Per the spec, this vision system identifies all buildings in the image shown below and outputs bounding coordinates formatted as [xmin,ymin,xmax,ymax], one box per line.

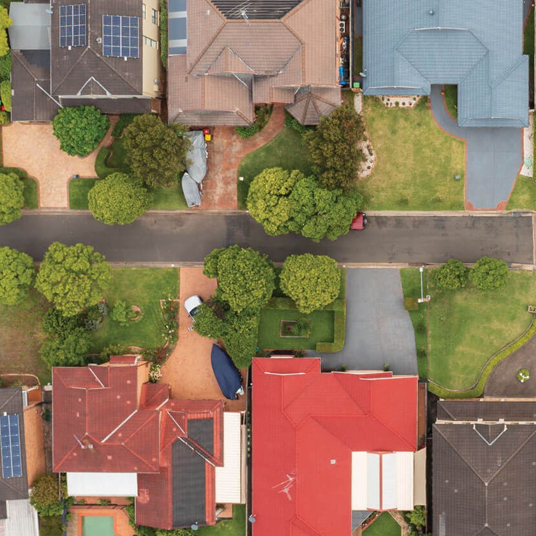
[432,400,536,536]
[10,0,162,124]
[358,0,529,128]
[51,355,251,534]
[245,357,429,536]
[167,0,343,126]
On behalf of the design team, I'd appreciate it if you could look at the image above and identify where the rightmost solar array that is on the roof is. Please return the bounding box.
[103,15,140,58]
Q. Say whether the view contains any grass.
Yes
